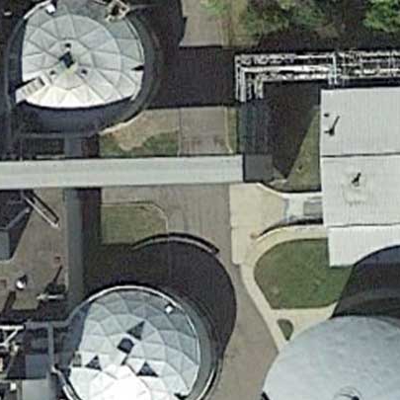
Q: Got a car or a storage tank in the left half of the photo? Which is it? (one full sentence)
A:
What appears in the left half of the photo is a storage tank.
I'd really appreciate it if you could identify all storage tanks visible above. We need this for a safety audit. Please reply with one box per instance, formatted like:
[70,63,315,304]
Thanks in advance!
[261,314,400,400]
[63,285,217,400]
[3,0,168,137]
